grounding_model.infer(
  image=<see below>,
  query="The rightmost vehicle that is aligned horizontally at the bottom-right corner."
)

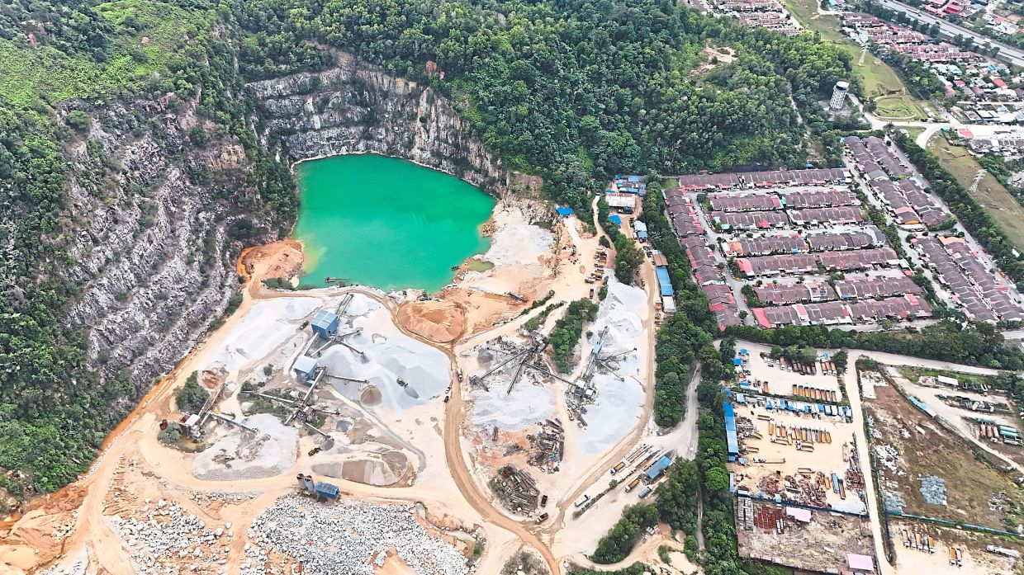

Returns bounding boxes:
[985,545,1017,557]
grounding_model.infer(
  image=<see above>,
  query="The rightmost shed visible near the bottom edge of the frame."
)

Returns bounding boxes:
[843,554,874,573]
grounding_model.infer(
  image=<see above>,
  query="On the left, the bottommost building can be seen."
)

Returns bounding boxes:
[312,484,338,503]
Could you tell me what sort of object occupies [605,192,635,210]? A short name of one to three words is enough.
shed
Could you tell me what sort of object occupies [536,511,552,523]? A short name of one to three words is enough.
vehicle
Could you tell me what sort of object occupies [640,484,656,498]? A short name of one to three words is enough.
vehicle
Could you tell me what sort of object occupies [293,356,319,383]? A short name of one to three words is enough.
house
